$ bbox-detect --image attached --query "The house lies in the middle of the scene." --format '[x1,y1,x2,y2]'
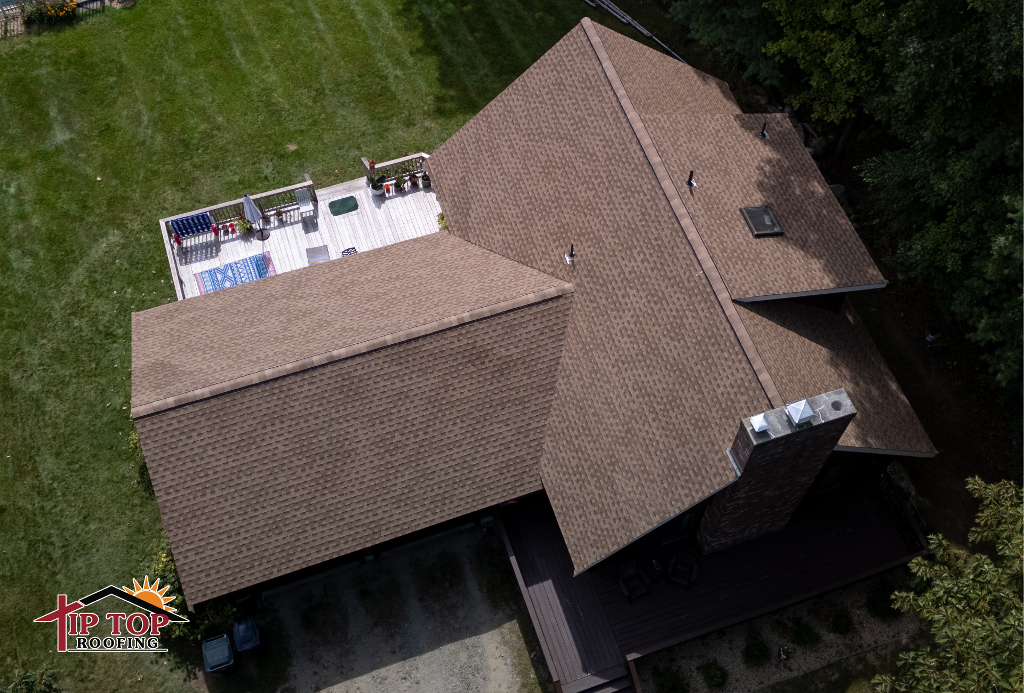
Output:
[129,22,937,613]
